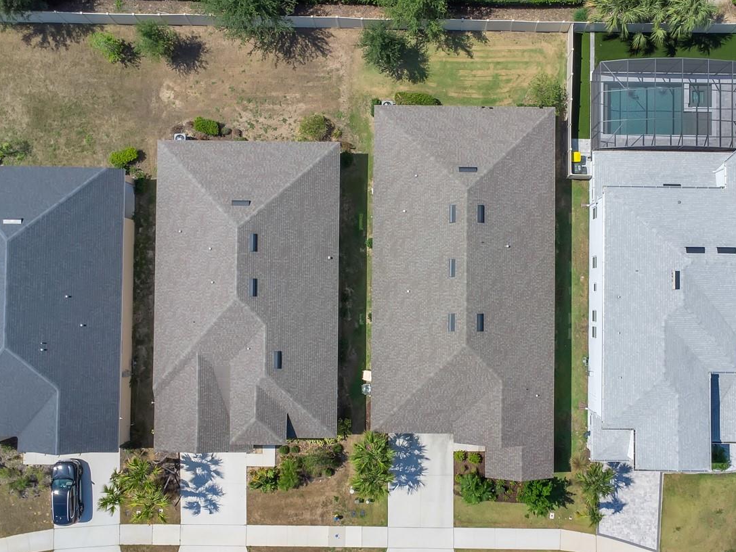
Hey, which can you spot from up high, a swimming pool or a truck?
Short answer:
swimming pool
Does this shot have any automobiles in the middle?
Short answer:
No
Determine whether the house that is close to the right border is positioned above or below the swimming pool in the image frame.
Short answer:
below it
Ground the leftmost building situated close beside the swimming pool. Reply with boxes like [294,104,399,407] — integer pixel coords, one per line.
[371,104,556,482]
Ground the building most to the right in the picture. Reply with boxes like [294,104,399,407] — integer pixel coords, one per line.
[584,148,736,473]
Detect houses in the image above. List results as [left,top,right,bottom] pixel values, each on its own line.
[153,139,341,453]
[584,148,736,473]
[0,167,143,456]
[371,104,556,482]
